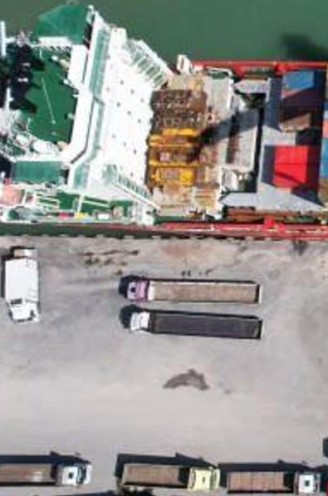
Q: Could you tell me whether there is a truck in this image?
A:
Yes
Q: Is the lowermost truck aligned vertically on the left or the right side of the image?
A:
left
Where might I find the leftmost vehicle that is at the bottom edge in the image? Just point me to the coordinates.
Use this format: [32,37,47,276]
[0,459,104,487]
